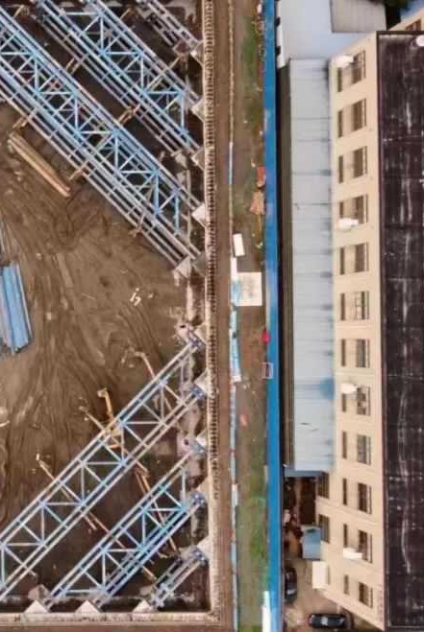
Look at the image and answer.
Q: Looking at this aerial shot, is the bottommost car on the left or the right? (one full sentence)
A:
The bottommost car sits on the right side.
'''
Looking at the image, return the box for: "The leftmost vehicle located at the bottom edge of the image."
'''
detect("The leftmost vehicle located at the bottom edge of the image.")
[281,564,301,605]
